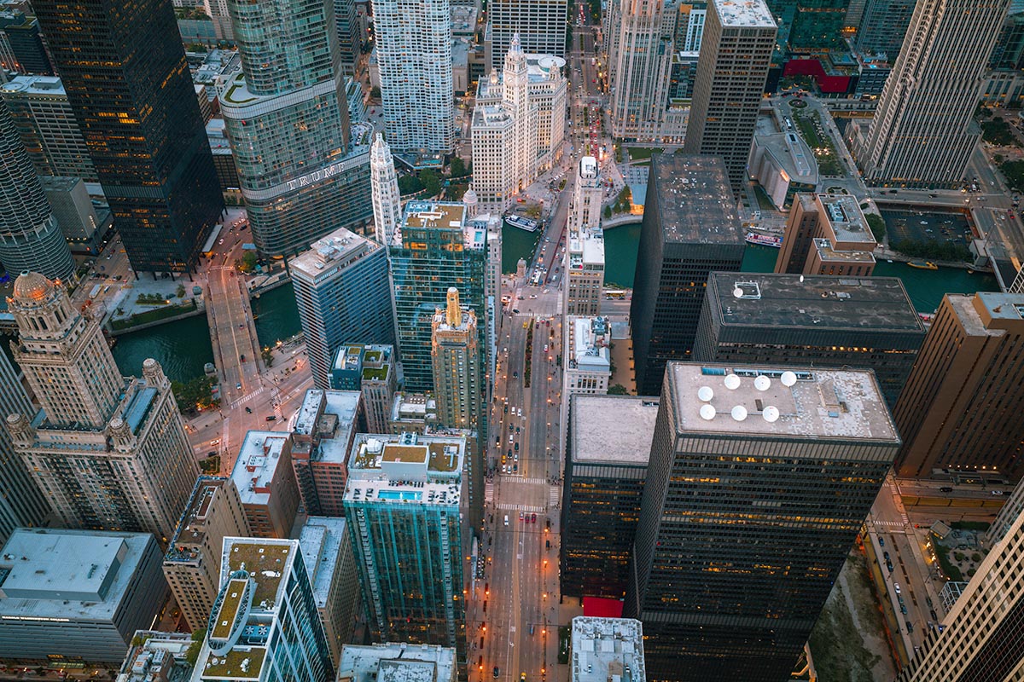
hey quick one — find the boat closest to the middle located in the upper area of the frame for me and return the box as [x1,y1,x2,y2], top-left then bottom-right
[504,216,540,233]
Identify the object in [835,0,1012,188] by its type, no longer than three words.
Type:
building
